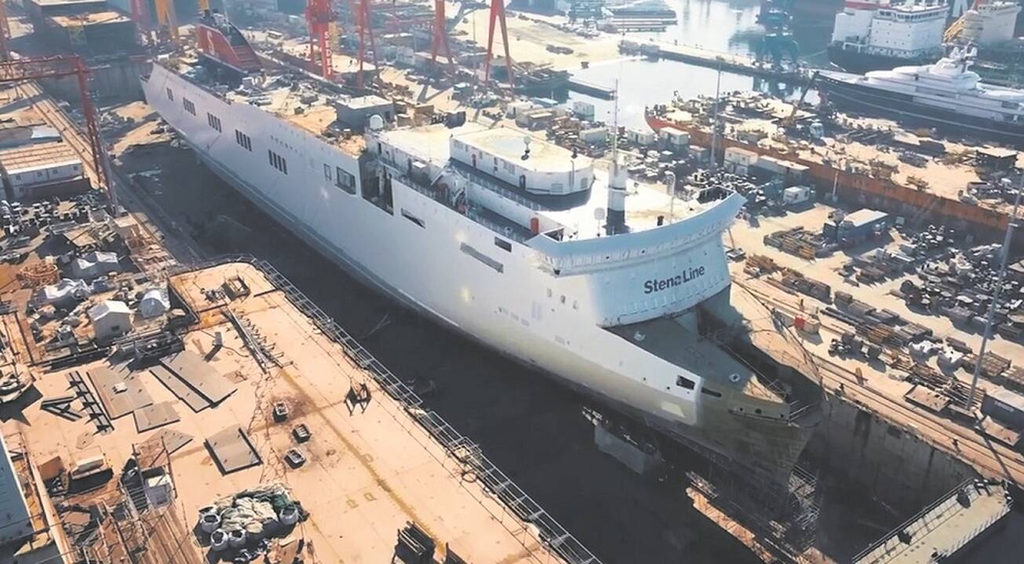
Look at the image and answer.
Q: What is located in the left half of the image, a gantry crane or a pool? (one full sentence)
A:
It is a gantry crane that can be seen in the left half of the image.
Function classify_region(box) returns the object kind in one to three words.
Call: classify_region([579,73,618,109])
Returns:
pier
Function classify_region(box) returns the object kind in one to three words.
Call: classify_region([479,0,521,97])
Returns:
container crane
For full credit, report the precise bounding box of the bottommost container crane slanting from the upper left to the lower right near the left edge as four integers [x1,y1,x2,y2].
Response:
[0,65,121,217]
